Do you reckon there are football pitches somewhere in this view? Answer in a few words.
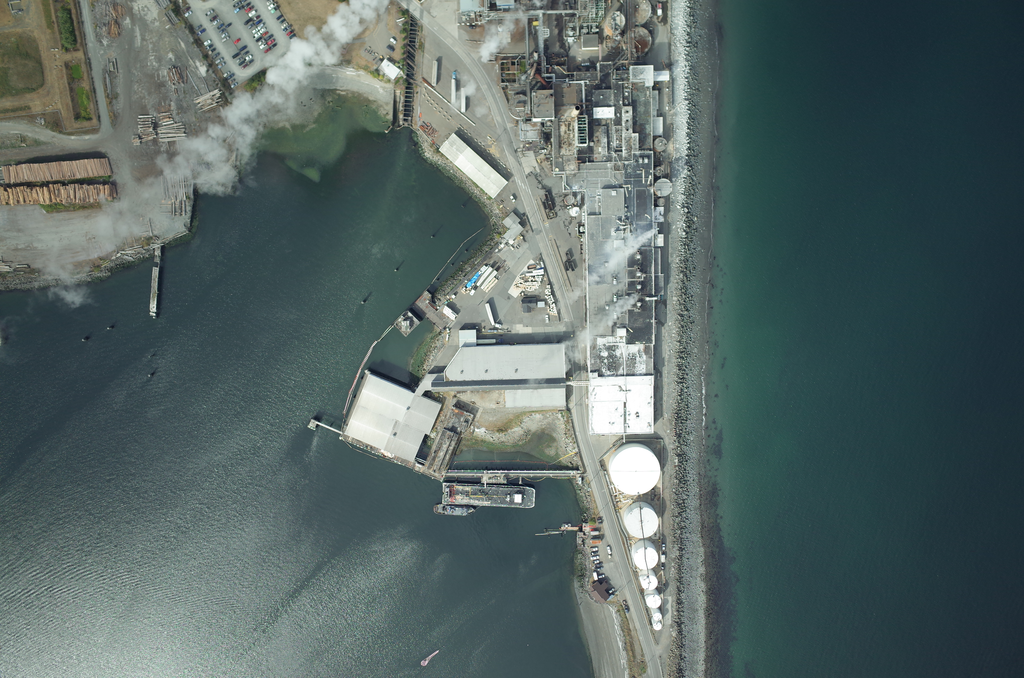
No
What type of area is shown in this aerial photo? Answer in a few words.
port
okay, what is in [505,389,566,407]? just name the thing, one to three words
building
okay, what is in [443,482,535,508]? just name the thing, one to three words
ship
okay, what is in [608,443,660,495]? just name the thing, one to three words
storage tank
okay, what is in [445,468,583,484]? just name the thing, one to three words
pier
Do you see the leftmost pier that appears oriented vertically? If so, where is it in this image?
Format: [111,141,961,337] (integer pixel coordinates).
[149,246,162,312]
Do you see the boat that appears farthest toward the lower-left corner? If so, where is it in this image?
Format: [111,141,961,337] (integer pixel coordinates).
[434,503,474,516]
